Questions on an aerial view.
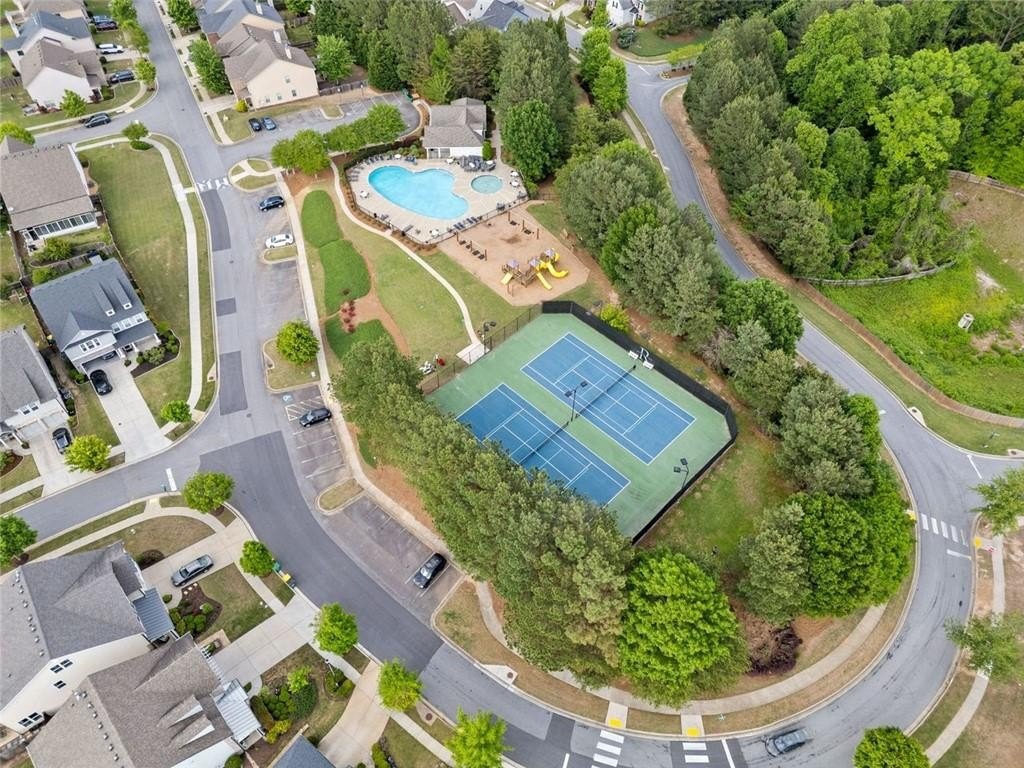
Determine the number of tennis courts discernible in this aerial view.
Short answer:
2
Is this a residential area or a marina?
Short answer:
residential area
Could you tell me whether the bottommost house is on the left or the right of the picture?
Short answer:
left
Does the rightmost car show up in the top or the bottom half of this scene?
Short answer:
bottom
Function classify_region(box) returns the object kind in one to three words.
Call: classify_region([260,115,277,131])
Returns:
car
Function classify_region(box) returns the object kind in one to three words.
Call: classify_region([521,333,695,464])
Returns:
tennis court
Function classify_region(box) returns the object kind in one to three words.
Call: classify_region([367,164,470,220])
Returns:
swimming pool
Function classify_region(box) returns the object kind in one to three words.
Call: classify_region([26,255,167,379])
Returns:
house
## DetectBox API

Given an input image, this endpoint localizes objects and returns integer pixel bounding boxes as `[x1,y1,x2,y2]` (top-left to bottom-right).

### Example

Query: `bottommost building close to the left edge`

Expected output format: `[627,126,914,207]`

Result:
[19,636,267,768]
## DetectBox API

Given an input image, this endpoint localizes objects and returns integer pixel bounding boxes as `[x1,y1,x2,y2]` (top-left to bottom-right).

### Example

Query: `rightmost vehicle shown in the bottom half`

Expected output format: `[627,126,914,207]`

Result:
[761,722,817,758]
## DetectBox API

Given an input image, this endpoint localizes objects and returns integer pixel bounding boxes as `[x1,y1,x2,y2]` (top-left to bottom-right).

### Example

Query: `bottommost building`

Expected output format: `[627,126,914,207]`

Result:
[248,729,335,768]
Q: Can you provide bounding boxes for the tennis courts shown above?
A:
[521,333,695,464]
[463,383,631,528]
